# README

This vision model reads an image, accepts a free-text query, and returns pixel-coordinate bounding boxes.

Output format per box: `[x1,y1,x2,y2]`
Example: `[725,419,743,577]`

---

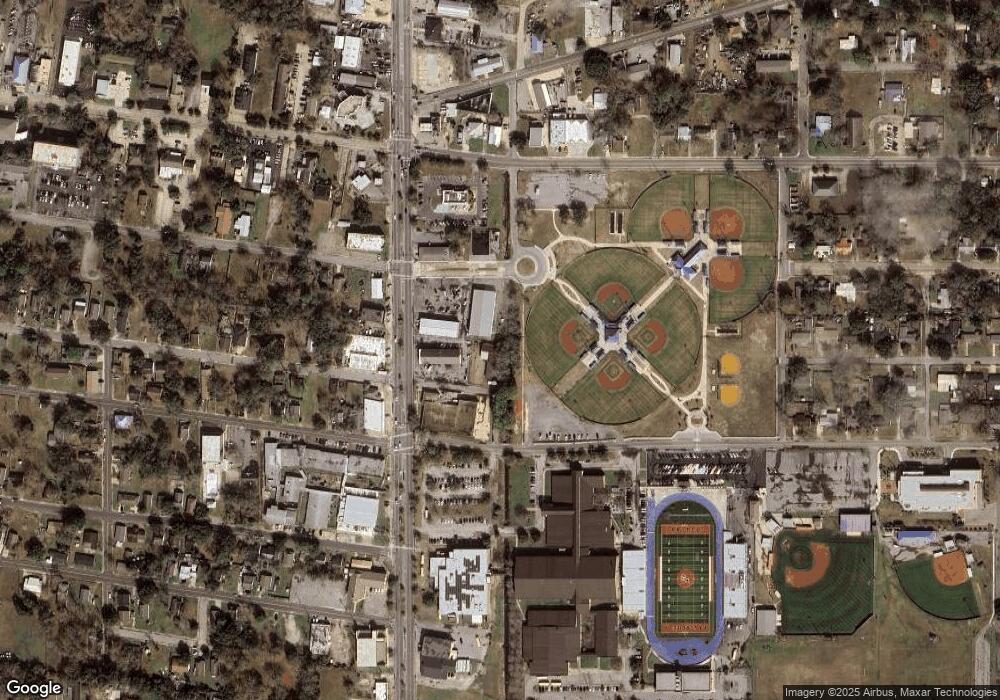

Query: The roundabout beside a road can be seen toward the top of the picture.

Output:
[506,246,548,289]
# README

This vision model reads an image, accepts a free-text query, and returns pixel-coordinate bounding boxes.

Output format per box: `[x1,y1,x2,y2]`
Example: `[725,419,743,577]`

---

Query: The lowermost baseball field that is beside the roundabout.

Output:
[525,283,597,390]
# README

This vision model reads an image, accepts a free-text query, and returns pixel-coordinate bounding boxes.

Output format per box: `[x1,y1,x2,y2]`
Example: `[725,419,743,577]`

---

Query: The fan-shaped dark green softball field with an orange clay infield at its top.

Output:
[894,550,981,619]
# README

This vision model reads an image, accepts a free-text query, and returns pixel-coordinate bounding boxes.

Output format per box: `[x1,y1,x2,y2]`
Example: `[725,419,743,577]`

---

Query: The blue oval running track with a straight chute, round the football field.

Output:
[646,493,724,664]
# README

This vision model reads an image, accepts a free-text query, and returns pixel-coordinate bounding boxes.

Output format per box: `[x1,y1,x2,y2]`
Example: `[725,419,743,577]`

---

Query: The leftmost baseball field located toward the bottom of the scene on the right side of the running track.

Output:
[772,527,874,634]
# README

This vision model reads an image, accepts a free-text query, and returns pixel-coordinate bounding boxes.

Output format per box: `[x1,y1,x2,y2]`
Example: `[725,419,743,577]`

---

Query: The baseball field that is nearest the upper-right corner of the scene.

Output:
[708,174,777,242]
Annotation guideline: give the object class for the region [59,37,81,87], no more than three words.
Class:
building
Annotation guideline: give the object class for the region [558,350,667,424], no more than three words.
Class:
baseball field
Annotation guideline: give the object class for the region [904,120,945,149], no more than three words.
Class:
house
